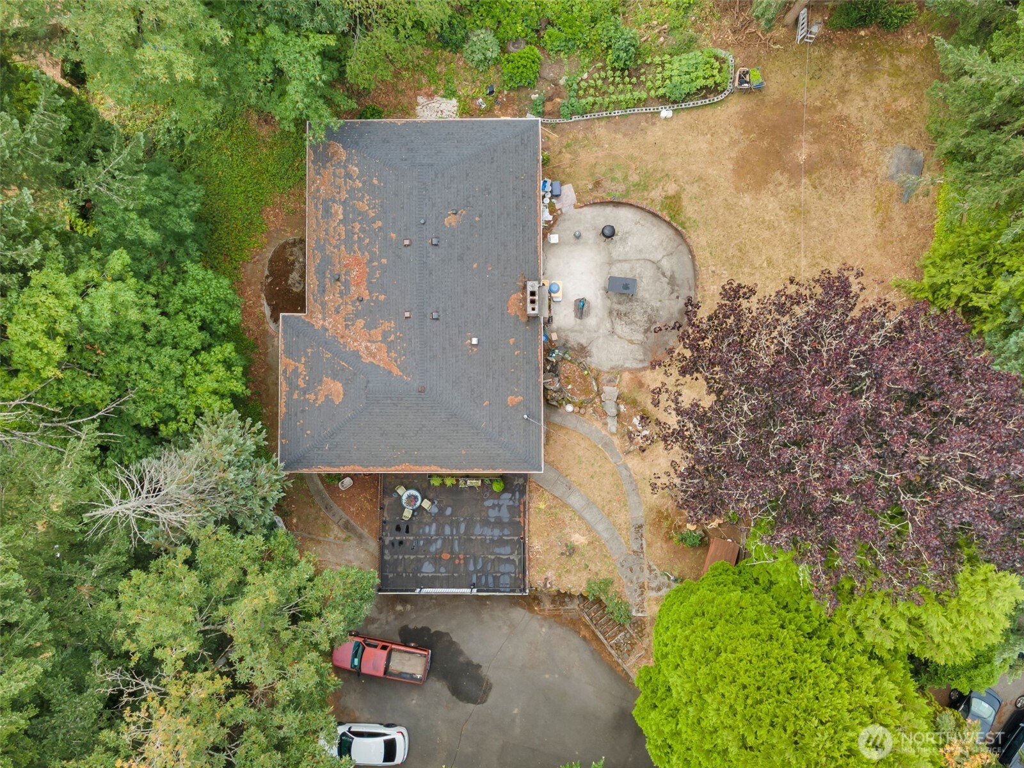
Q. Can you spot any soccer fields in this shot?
No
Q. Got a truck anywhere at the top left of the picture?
No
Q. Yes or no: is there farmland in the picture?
No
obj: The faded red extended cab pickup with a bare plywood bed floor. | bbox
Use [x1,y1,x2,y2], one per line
[329,629,435,686]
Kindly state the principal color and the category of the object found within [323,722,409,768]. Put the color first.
white car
